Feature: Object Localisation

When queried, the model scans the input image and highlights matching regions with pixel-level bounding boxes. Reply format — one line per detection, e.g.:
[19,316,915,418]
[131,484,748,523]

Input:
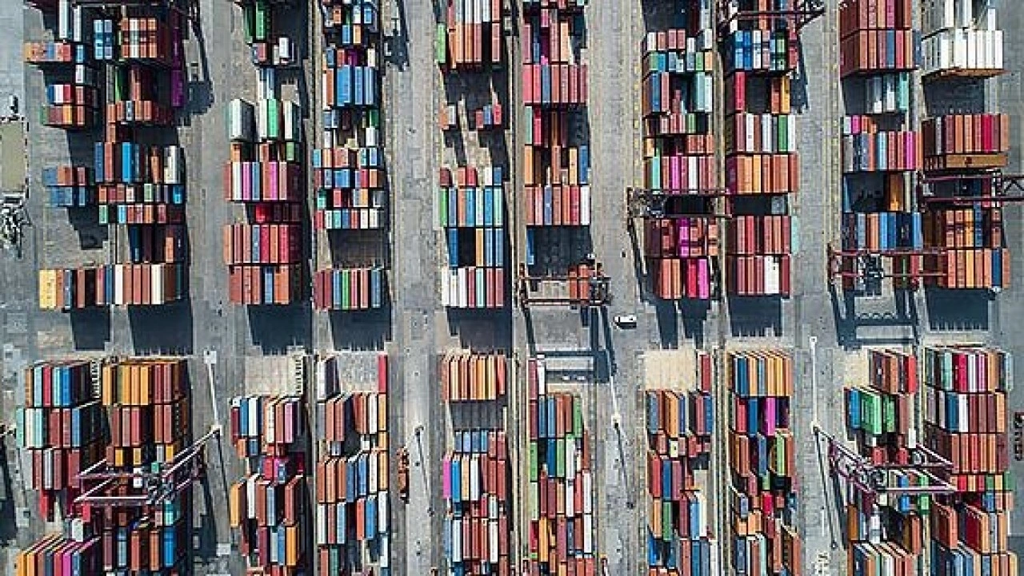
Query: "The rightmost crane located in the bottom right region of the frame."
[827,438,957,496]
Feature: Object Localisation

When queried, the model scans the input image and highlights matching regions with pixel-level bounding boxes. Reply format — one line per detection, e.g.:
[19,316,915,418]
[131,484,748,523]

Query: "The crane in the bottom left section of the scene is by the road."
[70,446,201,508]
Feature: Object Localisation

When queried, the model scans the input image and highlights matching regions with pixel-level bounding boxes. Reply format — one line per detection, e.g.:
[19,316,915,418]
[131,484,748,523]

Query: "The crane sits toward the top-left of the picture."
[69,0,199,32]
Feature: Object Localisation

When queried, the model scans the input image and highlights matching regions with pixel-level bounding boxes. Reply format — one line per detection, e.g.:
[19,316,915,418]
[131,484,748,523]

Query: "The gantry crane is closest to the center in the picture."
[518,267,614,310]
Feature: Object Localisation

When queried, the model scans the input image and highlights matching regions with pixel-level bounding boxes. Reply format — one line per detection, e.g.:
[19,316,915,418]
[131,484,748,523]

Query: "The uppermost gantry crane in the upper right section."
[716,0,829,40]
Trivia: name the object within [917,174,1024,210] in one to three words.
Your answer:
container crane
